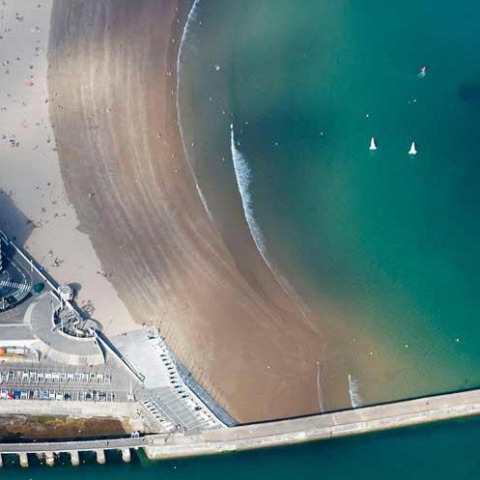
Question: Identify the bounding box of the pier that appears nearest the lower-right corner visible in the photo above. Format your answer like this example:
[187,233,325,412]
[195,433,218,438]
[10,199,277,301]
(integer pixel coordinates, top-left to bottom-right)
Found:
[143,388,480,460]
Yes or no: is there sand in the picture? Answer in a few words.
Yes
